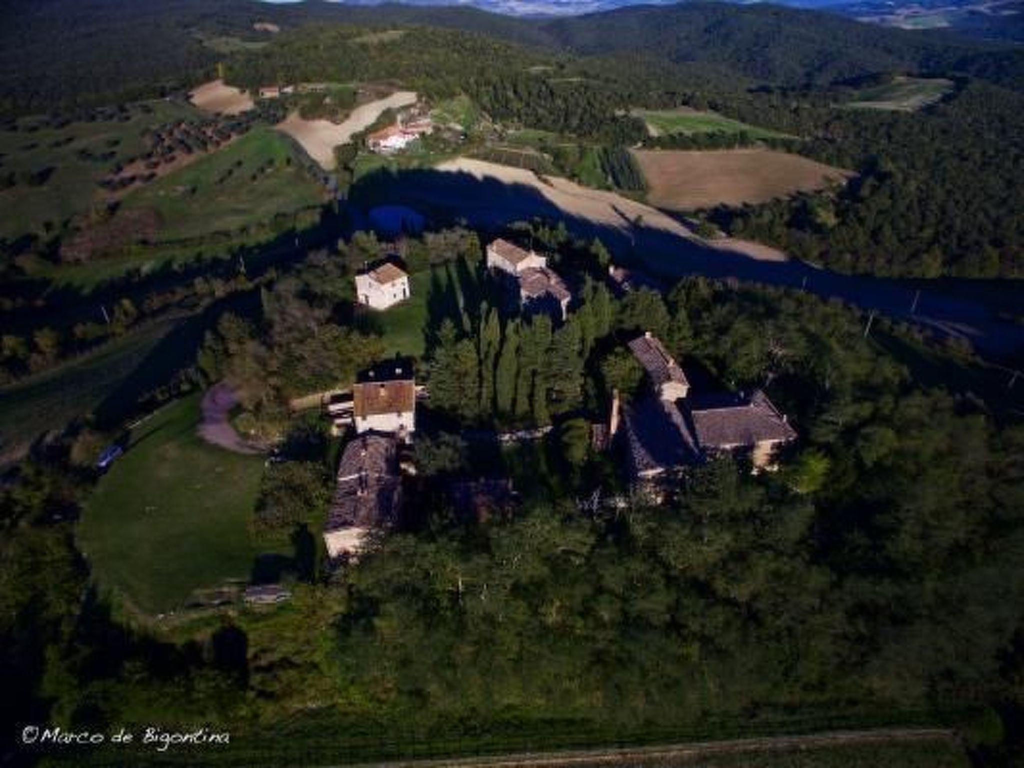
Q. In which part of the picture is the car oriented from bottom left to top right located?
left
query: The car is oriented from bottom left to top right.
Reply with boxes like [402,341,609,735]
[93,448,125,469]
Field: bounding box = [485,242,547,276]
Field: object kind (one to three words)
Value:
house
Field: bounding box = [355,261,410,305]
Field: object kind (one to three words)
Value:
house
